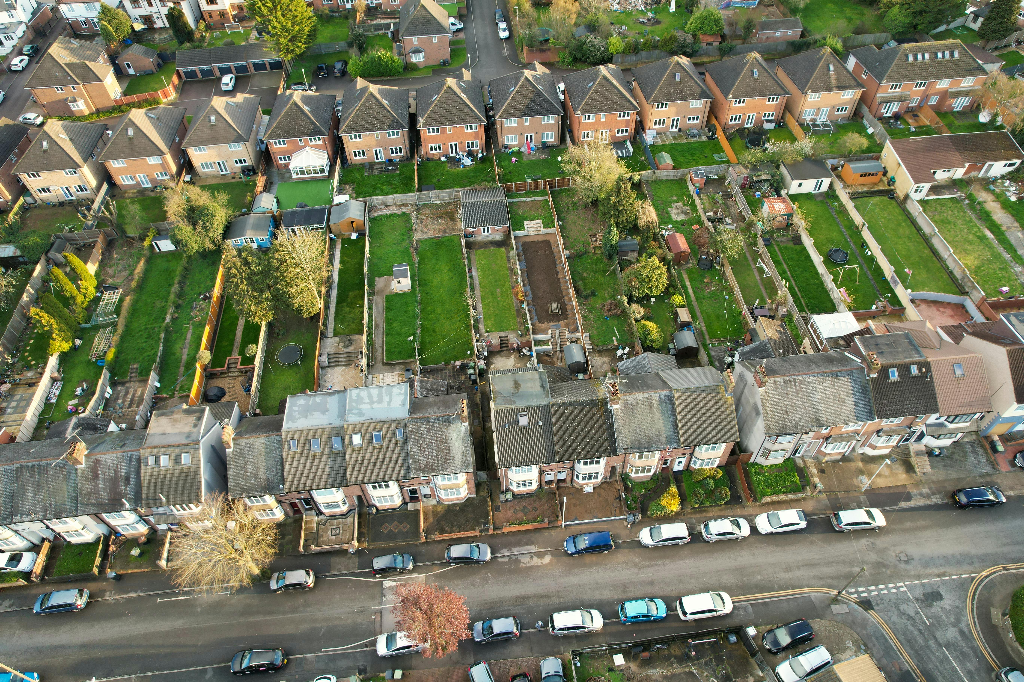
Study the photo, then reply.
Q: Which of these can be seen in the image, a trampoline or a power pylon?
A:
trampoline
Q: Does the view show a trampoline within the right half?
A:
Yes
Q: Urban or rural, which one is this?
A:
urban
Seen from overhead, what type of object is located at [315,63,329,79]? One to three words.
car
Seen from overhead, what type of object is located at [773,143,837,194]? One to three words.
shed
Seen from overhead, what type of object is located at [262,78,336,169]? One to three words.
house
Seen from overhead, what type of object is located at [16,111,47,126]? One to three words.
car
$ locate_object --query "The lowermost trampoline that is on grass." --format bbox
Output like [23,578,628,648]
[273,342,305,370]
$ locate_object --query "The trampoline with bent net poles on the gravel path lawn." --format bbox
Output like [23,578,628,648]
[824,240,855,266]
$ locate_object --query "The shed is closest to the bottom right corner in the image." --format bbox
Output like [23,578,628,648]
[831,654,885,682]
